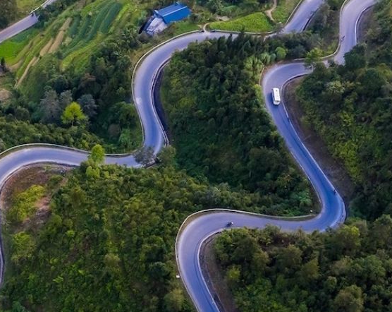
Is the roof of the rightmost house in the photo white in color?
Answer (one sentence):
No, the roof of the rightmost house is actually blue.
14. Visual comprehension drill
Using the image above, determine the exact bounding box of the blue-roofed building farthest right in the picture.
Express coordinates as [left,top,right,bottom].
[154,7,193,32]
